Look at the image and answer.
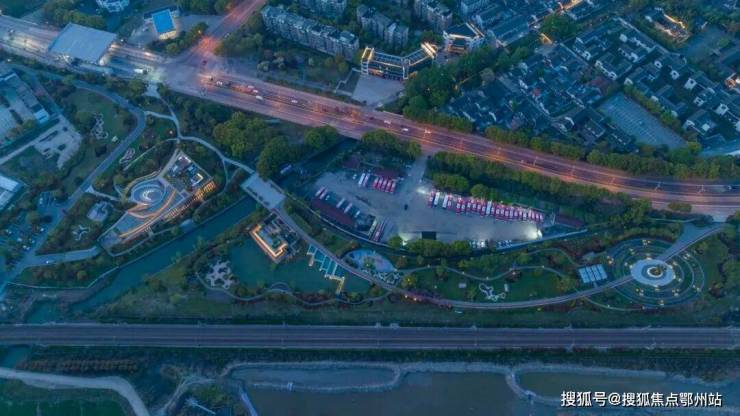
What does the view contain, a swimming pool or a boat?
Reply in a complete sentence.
Of the two, only a swimming pool appears.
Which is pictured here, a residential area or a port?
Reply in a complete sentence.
What you see here is a residential area.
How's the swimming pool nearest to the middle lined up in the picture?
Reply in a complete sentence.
The swimming pool nearest to the middle is laid out at an angle.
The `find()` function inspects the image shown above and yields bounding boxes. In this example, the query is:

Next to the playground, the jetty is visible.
[306,245,345,298]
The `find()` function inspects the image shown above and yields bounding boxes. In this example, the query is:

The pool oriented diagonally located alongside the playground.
[309,248,343,277]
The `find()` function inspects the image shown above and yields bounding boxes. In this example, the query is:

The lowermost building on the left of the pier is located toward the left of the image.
[249,210,298,262]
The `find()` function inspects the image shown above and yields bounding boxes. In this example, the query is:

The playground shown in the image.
[342,247,396,274]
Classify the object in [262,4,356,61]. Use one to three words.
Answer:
building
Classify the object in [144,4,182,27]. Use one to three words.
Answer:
building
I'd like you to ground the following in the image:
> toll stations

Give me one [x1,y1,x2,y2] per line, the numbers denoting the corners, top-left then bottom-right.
[48,22,118,68]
